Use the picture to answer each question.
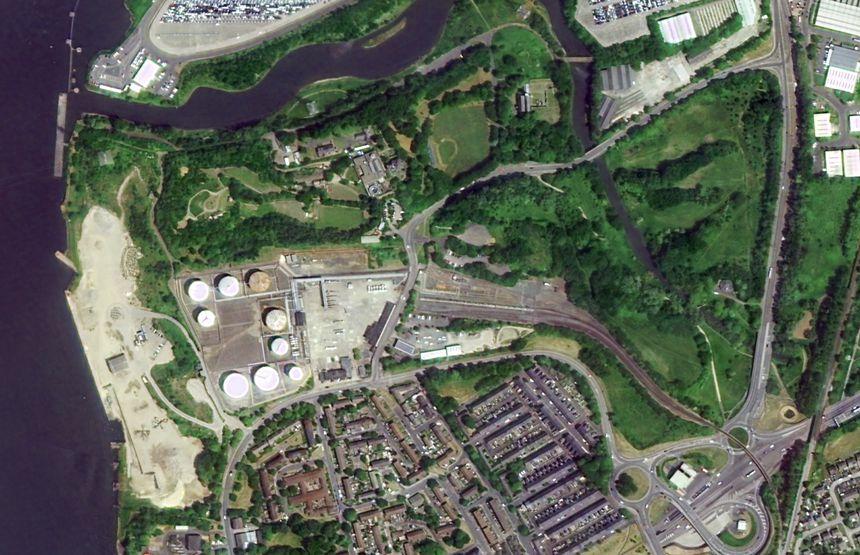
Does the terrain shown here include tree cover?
Yes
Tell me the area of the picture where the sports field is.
top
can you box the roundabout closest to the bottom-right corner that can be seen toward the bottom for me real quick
[722,421,755,453]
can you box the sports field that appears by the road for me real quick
[430,103,489,172]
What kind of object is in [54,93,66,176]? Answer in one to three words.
pier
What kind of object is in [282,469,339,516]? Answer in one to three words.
building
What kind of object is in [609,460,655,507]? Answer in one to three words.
roundabout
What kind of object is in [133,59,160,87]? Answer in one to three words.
building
